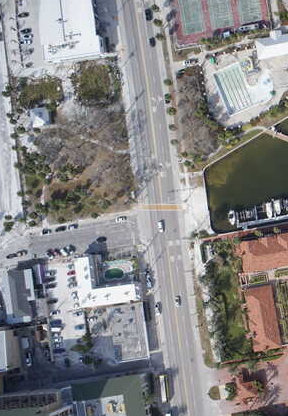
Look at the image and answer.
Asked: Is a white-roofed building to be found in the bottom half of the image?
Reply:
Yes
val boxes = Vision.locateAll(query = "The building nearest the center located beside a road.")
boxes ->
[74,256,146,309]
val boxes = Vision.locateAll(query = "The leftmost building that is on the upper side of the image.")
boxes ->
[30,107,53,128]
